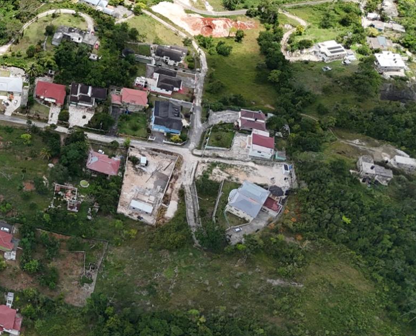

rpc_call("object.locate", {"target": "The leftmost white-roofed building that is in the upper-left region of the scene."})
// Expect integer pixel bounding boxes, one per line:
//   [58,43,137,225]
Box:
[0,78,22,98]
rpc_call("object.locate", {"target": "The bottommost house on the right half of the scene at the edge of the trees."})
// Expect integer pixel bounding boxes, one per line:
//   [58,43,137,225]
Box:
[226,181,283,226]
